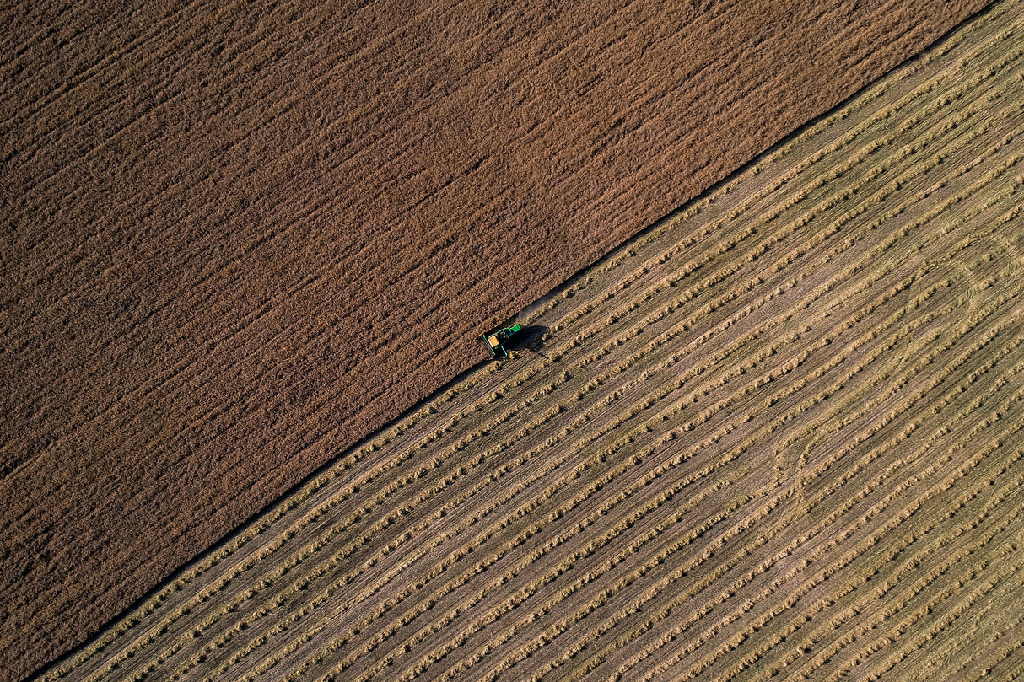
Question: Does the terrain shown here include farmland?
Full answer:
Yes, some farmland is visible.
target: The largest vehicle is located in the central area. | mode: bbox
[477,323,523,358]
